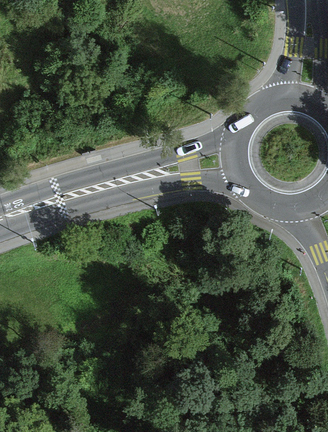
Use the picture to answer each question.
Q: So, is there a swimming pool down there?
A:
No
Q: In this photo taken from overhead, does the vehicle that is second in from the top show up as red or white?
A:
white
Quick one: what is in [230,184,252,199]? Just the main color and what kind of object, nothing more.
white car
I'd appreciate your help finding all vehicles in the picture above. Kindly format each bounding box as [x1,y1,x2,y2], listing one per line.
[176,142,204,157]
[230,184,252,199]
[228,114,257,134]
[278,54,293,76]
